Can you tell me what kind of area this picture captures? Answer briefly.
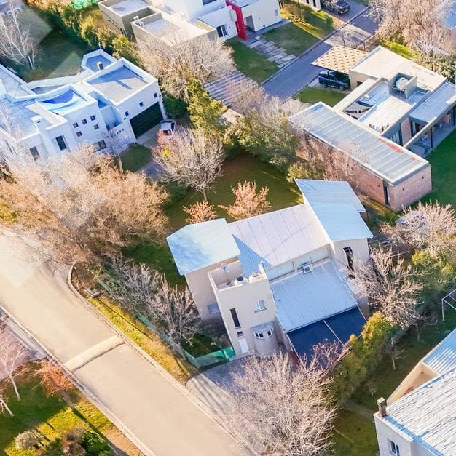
residential area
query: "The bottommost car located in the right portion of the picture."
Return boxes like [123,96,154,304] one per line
[317,68,351,91]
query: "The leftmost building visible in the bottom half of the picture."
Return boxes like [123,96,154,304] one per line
[166,179,390,383]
